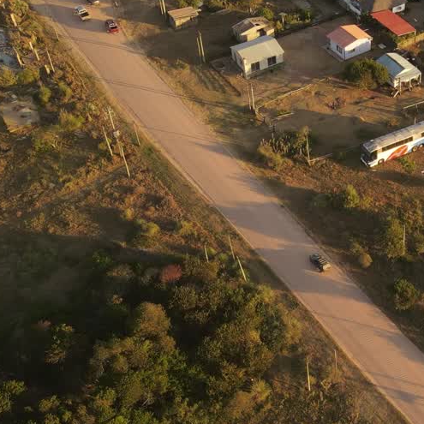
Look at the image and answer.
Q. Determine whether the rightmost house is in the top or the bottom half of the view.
top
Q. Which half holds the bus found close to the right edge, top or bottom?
top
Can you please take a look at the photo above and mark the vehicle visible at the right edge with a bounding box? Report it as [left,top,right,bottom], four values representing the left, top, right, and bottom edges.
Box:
[361,123,424,165]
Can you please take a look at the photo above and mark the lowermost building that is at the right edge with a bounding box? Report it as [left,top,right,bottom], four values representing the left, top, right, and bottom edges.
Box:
[379,50,423,106]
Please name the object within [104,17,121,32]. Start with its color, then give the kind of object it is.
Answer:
red vehicle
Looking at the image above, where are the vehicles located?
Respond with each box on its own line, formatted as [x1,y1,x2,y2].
[308,251,334,273]
[104,17,121,32]
[72,5,91,20]
[89,0,102,5]
[361,123,424,165]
